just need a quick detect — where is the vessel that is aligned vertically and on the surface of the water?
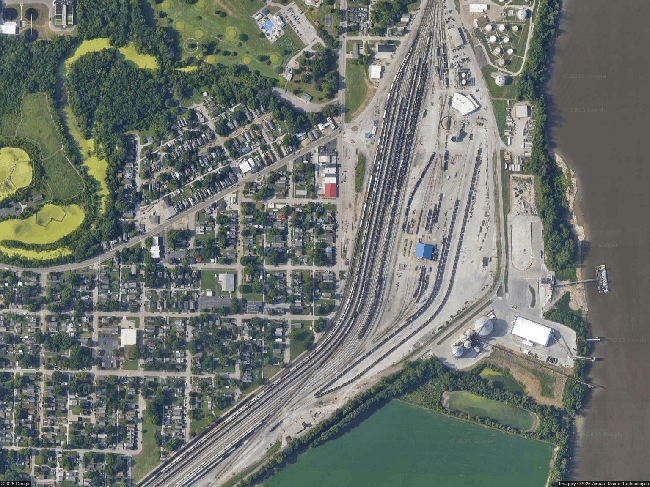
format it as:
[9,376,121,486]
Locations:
[595,265,608,292]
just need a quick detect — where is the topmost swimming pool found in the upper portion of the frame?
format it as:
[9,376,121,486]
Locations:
[255,10,284,43]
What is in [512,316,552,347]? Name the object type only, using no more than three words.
building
